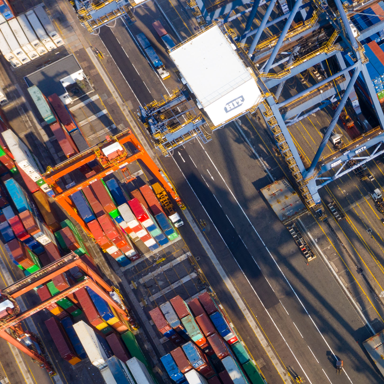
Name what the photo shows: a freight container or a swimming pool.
freight container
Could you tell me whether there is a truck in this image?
Yes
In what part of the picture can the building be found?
top left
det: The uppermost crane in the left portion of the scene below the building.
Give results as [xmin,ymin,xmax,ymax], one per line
[36,124,183,248]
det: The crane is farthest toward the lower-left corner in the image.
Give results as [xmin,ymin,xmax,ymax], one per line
[0,252,135,376]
